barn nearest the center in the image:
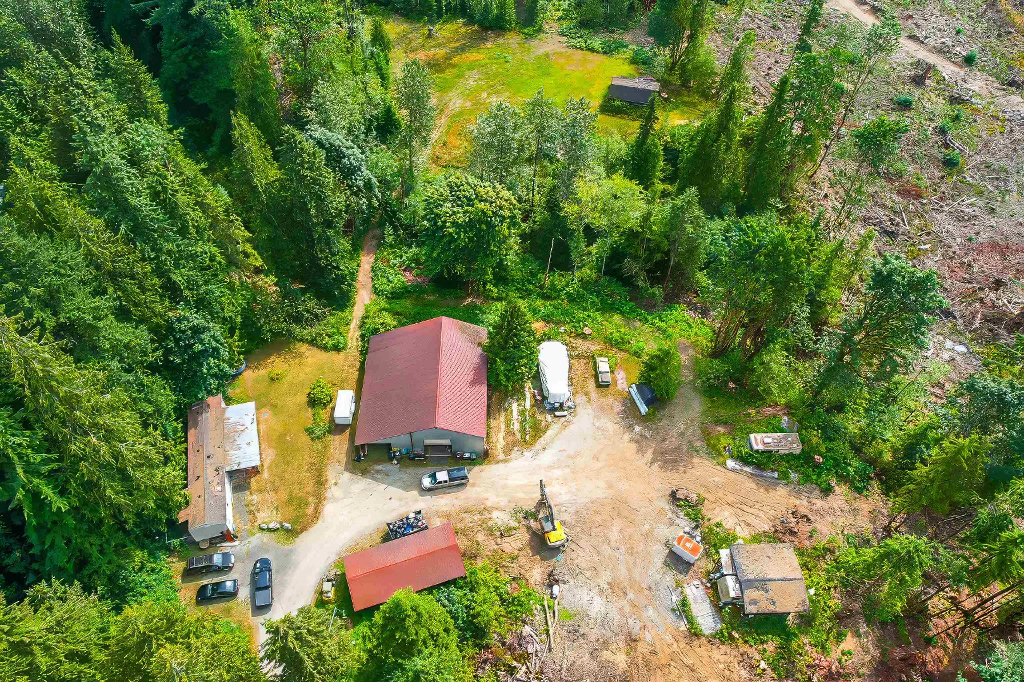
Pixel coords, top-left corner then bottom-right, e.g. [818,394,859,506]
[355,318,488,462]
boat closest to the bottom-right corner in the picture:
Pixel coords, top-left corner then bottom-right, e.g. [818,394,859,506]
[674,533,709,565]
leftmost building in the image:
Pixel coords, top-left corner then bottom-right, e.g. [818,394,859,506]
[163,390,251,540]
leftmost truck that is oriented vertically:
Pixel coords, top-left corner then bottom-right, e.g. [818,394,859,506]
[251,556,277,611]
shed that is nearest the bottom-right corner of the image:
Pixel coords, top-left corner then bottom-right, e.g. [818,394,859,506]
[730,544,808,622]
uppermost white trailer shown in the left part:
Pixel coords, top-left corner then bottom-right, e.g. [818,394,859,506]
[331,386,359,429]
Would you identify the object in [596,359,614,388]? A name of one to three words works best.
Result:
vehicle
